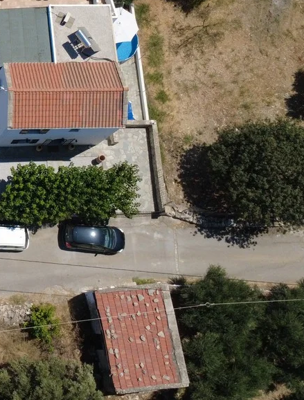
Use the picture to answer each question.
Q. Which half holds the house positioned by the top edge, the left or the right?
left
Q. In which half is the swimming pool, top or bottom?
top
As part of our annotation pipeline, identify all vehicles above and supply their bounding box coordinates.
[0,225,30,255]
[57,223,124,258]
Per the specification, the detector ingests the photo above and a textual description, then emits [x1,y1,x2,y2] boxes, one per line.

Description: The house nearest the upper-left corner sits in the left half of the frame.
[0,0,132,152]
